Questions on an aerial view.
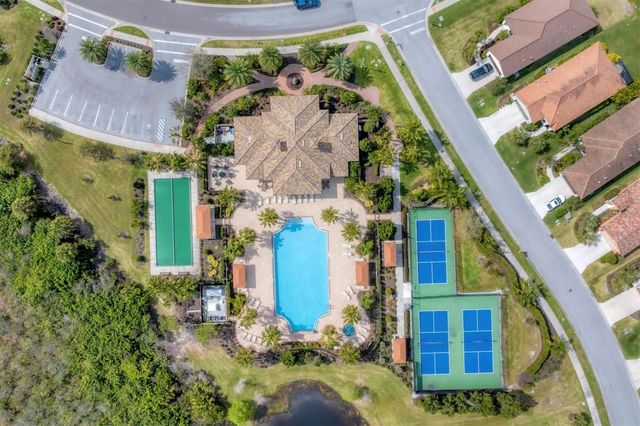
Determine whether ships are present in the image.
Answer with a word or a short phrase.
No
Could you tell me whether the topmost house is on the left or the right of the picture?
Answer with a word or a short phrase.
right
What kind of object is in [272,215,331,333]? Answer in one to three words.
swimming pool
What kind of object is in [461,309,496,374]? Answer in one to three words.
sports court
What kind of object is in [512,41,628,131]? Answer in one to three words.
house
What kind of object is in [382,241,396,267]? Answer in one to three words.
building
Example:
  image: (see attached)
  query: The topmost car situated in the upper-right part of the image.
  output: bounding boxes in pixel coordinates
[470,64,494,80]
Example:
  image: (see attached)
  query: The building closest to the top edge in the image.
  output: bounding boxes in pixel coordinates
[489,0,601,77]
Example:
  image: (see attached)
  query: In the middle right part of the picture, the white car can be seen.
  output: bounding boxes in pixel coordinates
[542,193,566,210]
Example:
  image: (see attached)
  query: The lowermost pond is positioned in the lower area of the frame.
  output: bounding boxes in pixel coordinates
[271,389,354,426]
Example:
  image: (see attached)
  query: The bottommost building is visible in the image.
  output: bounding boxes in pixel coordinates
[391,336,406,364]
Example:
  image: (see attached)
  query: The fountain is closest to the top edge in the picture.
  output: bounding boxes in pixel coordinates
[286,71,304,89]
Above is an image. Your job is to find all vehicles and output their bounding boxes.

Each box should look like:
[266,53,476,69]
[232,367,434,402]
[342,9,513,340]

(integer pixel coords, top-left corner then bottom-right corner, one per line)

[542,193,566,210]
[470,64,494,80]
[294,0,320,8]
